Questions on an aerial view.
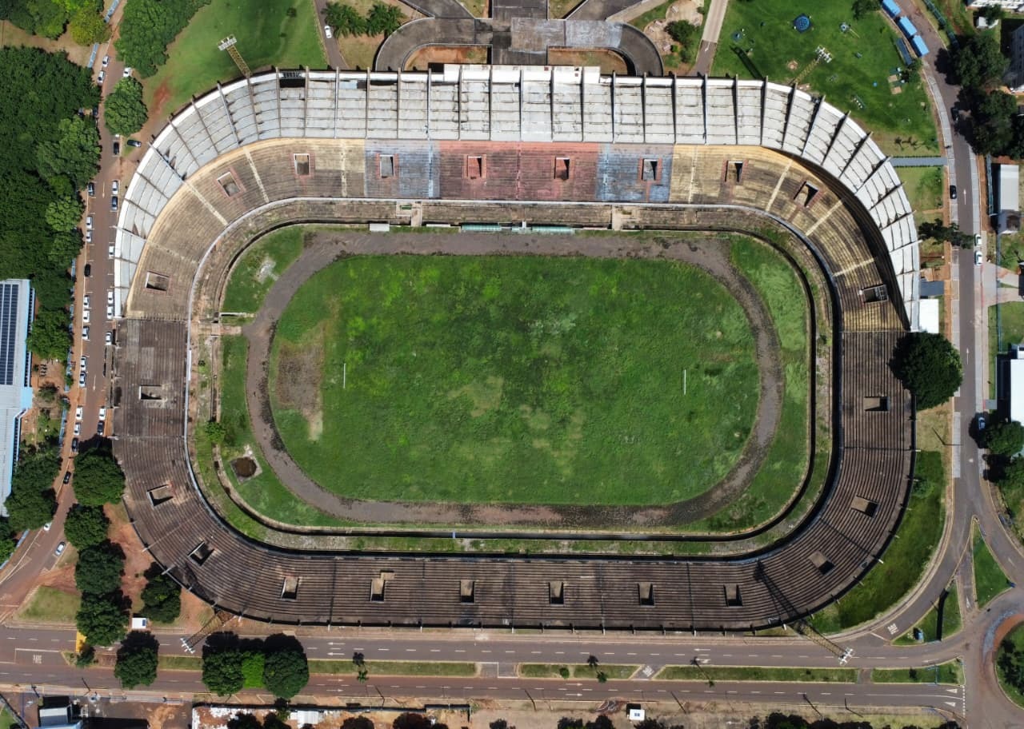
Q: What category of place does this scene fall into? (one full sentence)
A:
It's a sports ground.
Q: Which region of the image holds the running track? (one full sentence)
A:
The running track is located in the center region of the scene.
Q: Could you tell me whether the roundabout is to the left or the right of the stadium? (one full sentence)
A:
From the viewer's perspective, the roundabout falls to the right of the stadium.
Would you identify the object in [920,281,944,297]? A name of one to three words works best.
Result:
shed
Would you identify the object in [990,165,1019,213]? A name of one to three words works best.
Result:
building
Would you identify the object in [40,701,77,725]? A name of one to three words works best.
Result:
house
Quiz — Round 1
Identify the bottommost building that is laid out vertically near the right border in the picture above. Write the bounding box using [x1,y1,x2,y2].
[994,359,1024,425]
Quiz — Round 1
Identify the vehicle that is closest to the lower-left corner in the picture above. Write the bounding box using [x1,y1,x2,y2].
[54,541,66,556]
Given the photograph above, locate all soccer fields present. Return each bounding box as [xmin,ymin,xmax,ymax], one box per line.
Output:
[268,252,761,505]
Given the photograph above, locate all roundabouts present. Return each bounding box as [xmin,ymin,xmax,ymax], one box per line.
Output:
[918,543,1024,729]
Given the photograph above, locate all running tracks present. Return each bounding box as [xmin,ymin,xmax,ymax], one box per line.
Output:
[248,229,785,528]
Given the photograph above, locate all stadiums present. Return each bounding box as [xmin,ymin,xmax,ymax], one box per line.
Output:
[103,63,927,639]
